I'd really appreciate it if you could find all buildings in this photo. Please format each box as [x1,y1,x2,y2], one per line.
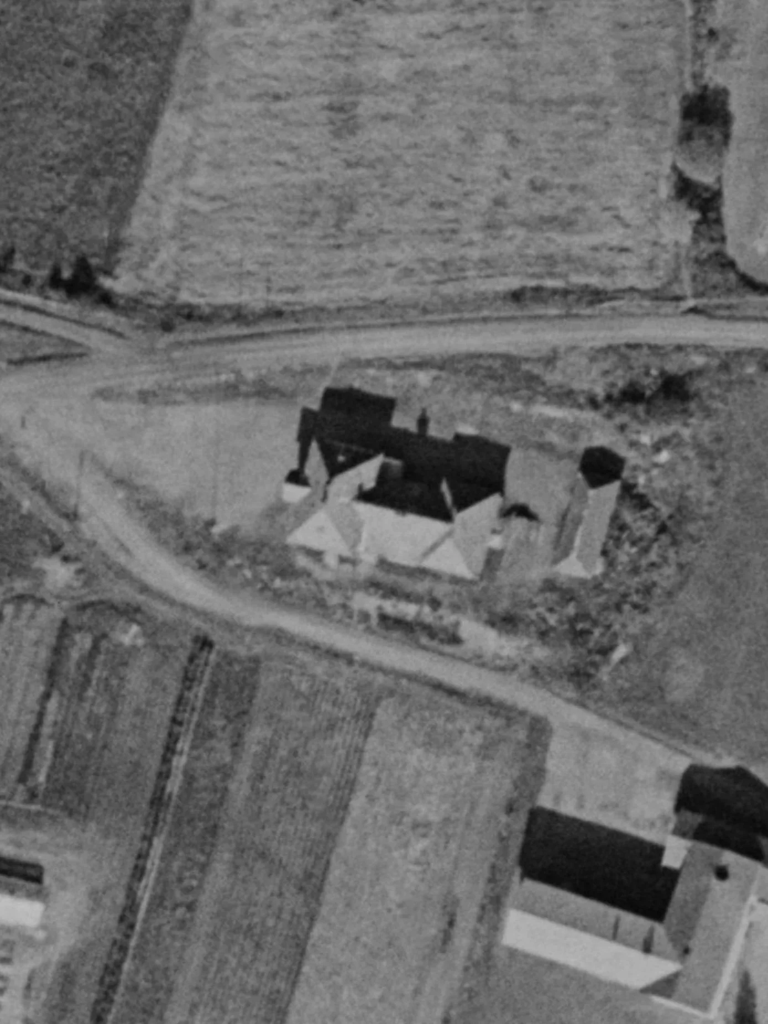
[283,436,503,580]
[503,808,760,1019]
[0,877,44,927]
[553,470,623,578]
